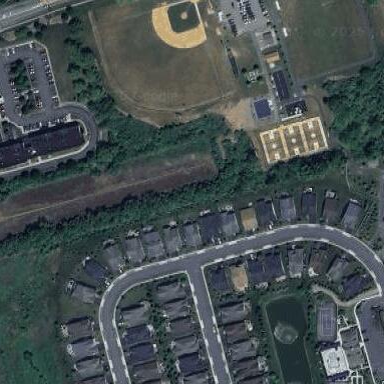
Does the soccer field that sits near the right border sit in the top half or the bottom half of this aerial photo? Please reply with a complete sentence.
The top half of the photo is where the soccer field that sits near the right border is.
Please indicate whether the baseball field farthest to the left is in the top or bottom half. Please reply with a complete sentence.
Seen from above, the baseball field farthest to the left lies in the top half of the view.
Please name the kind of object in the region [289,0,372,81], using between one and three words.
soccer field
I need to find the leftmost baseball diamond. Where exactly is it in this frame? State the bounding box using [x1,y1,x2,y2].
[102,0,235,110]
